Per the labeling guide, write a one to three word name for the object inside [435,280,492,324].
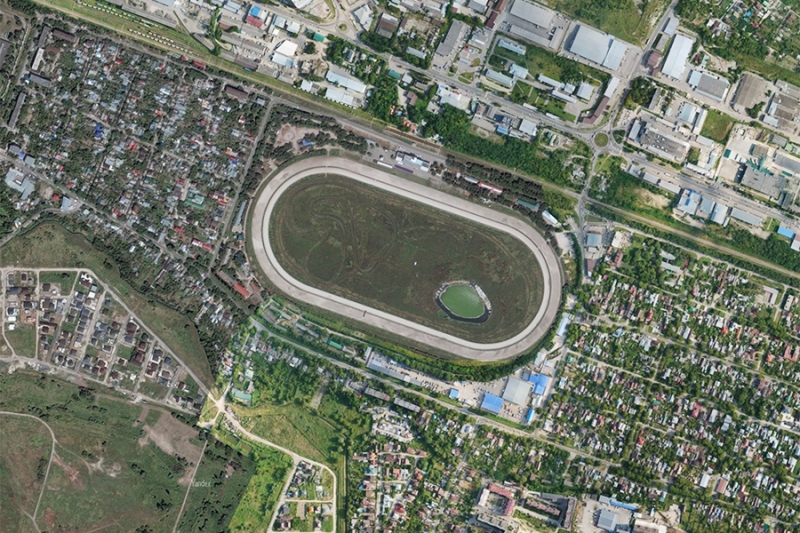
pond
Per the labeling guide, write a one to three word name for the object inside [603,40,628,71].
building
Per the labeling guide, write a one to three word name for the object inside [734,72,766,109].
building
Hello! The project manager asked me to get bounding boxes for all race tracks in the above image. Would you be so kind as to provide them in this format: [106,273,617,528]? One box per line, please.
[252,156,562,362]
